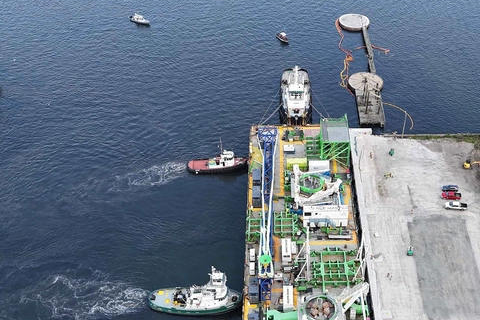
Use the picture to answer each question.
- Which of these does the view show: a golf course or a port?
port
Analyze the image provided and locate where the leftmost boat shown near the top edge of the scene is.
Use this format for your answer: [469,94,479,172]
[128,12,149,25]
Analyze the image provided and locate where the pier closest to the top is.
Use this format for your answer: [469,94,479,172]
[356,83,385,130]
